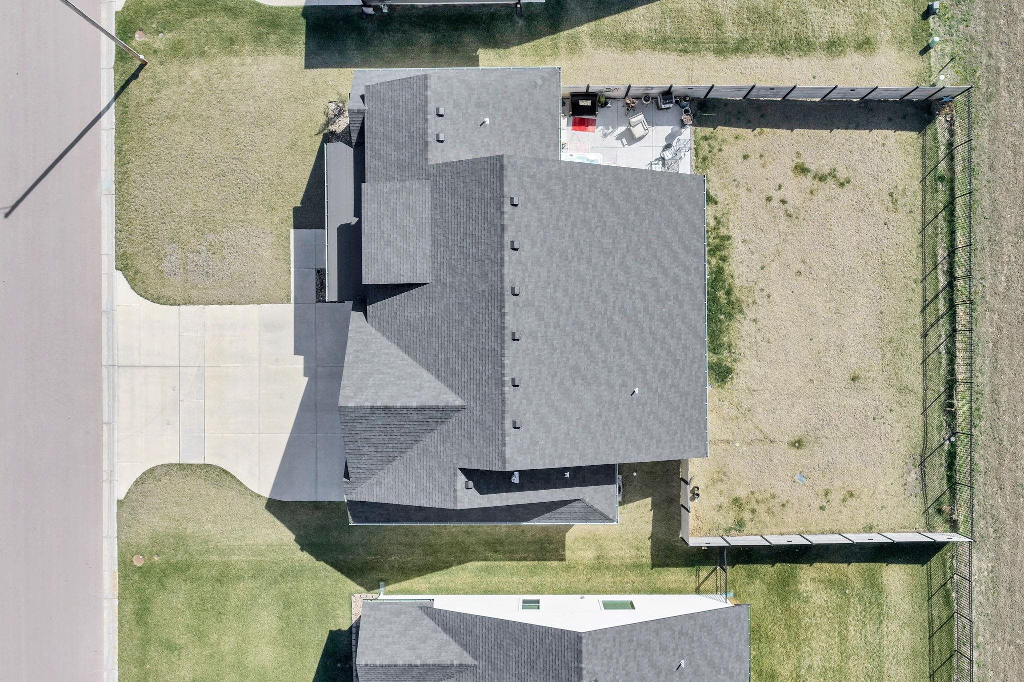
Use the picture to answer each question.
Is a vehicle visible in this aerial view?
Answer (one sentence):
No, I can see no vehicle in this picture.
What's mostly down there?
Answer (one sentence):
The bulk of the photo consists of grass.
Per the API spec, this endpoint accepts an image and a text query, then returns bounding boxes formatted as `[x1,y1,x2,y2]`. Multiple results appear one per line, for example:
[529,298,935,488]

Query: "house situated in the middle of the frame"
[324,65,708,525]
